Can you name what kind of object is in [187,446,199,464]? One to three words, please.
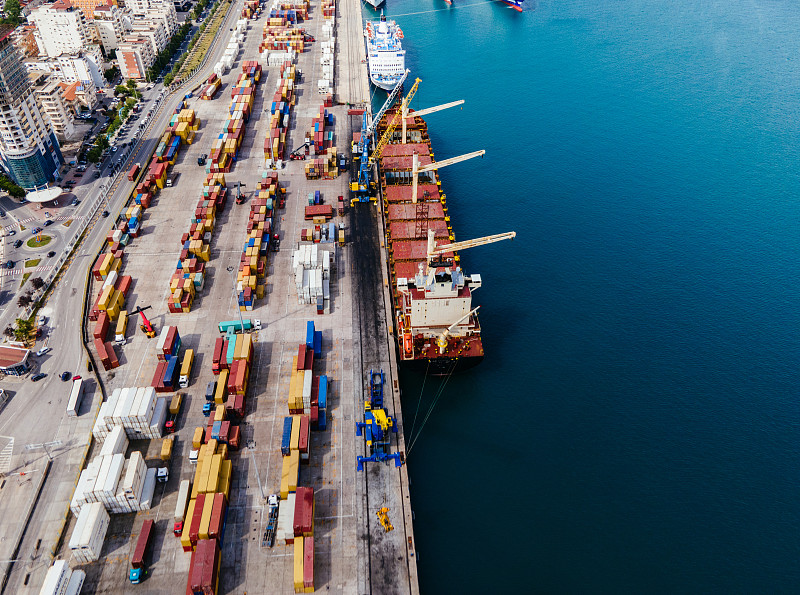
vehicle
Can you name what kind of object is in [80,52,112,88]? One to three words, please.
building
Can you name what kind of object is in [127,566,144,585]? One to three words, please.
vehicle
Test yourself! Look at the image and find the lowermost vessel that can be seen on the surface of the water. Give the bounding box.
[377,98,521,370]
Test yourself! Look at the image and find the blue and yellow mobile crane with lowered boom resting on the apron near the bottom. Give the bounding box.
[359,358,400,472]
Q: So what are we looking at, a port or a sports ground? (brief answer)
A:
port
